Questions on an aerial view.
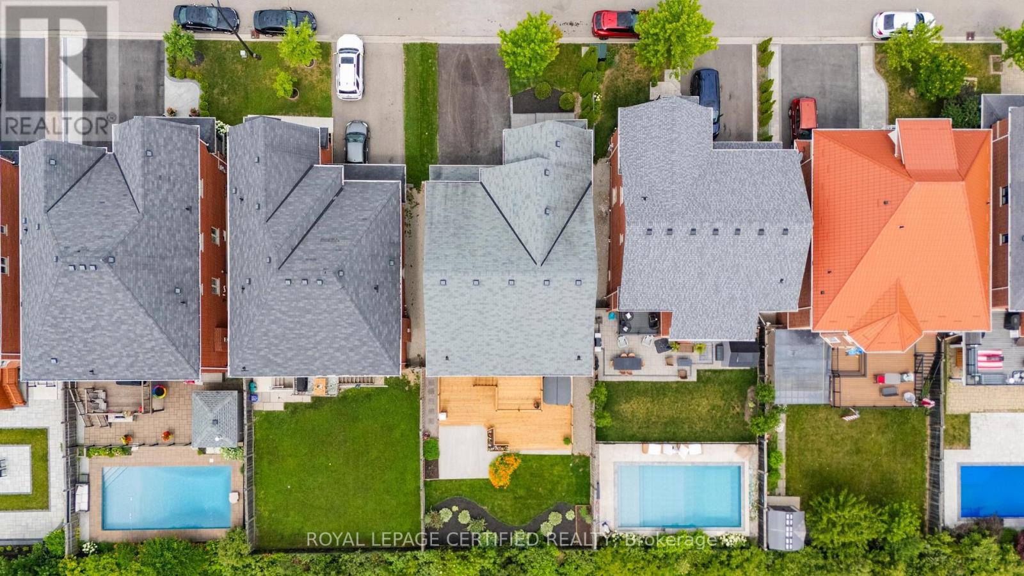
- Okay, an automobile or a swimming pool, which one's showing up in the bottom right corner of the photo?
swimming pool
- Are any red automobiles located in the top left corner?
No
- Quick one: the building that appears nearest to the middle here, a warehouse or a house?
house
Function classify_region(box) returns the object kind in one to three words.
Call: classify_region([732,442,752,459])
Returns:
umbrella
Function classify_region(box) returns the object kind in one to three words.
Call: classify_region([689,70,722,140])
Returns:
car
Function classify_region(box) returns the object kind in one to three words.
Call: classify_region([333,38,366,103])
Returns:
car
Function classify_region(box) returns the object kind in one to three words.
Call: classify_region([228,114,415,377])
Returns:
house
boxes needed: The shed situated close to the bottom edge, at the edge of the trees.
[767,506,803,551]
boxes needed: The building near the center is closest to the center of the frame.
[423,118,598,377]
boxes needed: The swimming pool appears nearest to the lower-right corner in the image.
[958,463,1024,520]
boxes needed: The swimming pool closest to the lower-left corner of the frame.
[100,464,233,531]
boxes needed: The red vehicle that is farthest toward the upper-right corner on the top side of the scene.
[785,97,817,140]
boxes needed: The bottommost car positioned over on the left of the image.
[341,120,371,163]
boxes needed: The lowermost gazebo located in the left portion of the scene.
[191,390,244,448]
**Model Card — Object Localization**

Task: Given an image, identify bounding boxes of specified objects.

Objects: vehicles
[785,97,817,140]
[254,7,318,40]
[341,120,371,163]
[174,4,242,37]
[869,10,931,44]
[689,70,722,140]
[588,8,649,43]
[333,38,366,103]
